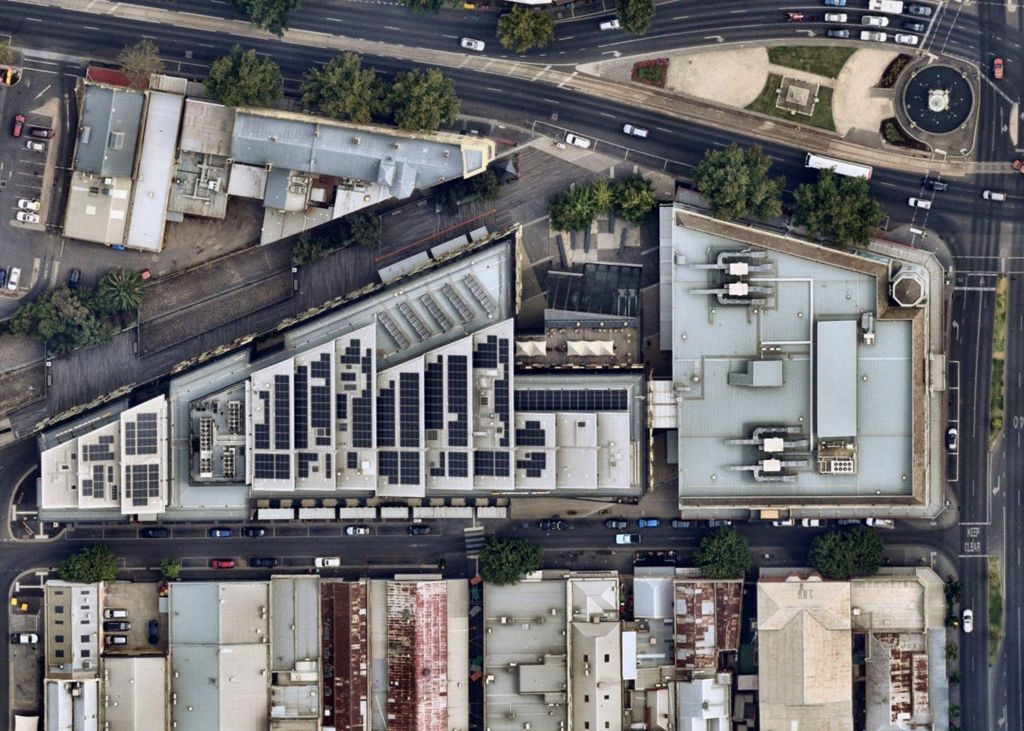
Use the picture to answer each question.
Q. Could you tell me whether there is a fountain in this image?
Yes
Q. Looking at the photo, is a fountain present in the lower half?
No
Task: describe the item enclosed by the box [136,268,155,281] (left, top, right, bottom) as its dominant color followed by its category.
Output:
red vehicle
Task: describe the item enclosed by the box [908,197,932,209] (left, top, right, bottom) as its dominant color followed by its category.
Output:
white vehicle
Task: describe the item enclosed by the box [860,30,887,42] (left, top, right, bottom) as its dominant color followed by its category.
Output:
white vehicle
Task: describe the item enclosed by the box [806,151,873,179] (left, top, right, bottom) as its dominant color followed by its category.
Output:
white bus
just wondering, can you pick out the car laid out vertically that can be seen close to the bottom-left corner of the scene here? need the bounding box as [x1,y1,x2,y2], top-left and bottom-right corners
[147,620,159,645]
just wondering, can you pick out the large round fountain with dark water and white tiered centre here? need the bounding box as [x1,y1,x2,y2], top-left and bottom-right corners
[902,63,975,135]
